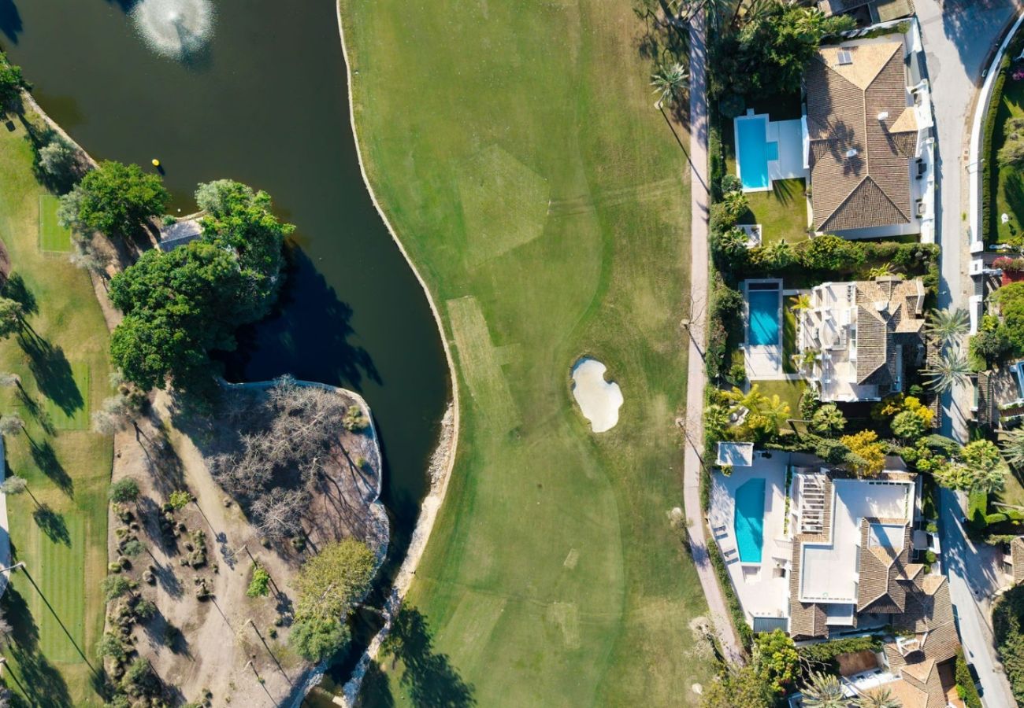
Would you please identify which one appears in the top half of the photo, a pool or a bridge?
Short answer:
pool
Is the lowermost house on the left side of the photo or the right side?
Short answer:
right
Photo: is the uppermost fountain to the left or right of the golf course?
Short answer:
on the left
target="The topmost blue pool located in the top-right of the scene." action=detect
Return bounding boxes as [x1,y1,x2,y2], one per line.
[734,108,807,192]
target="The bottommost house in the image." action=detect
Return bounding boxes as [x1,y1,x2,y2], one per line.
[832,564,959,708]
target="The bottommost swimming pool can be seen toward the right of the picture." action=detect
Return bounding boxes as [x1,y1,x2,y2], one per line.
[709,452,792,634]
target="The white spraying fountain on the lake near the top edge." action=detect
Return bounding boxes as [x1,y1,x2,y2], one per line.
[127,0,219,61]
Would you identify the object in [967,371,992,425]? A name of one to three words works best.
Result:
building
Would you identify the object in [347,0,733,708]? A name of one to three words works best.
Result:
golf course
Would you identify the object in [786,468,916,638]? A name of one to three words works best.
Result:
house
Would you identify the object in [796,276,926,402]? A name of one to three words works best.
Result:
house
